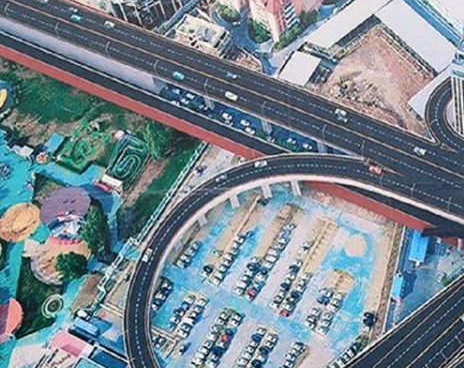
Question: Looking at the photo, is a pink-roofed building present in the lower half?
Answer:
Yes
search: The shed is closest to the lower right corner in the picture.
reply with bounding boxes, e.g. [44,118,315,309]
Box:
[391,273,405,305]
